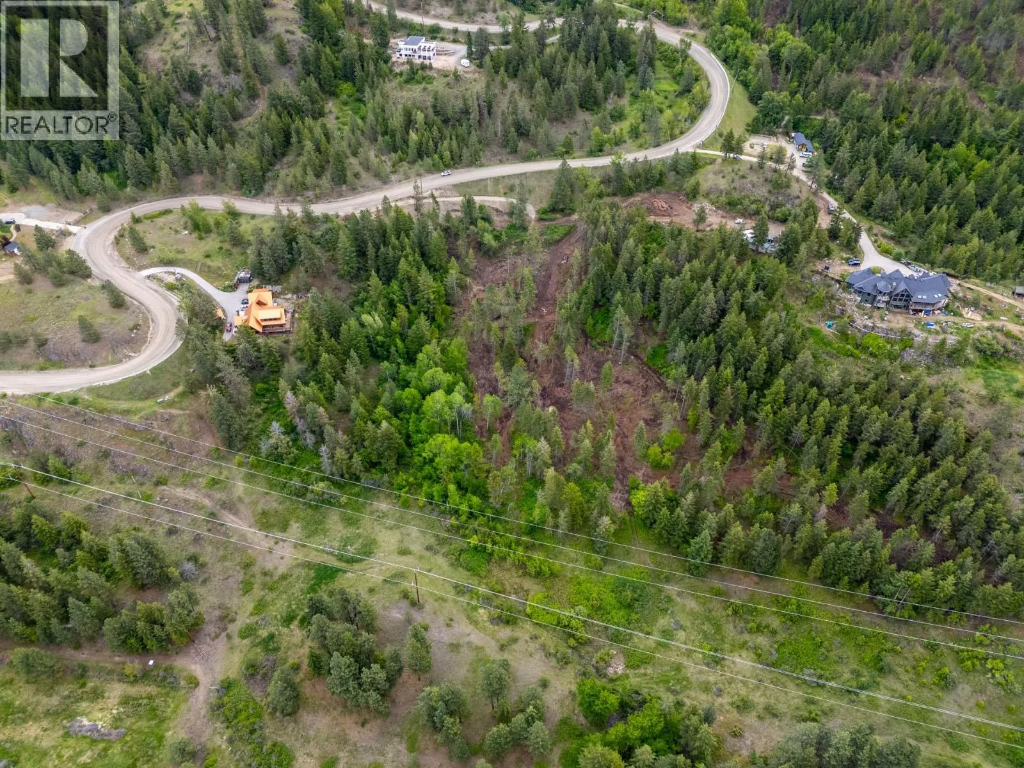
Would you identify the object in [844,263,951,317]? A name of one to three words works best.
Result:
house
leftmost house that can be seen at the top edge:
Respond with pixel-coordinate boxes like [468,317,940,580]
[398,36,436,62]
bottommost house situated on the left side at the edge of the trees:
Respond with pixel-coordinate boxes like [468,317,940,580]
[234,285,292,338]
